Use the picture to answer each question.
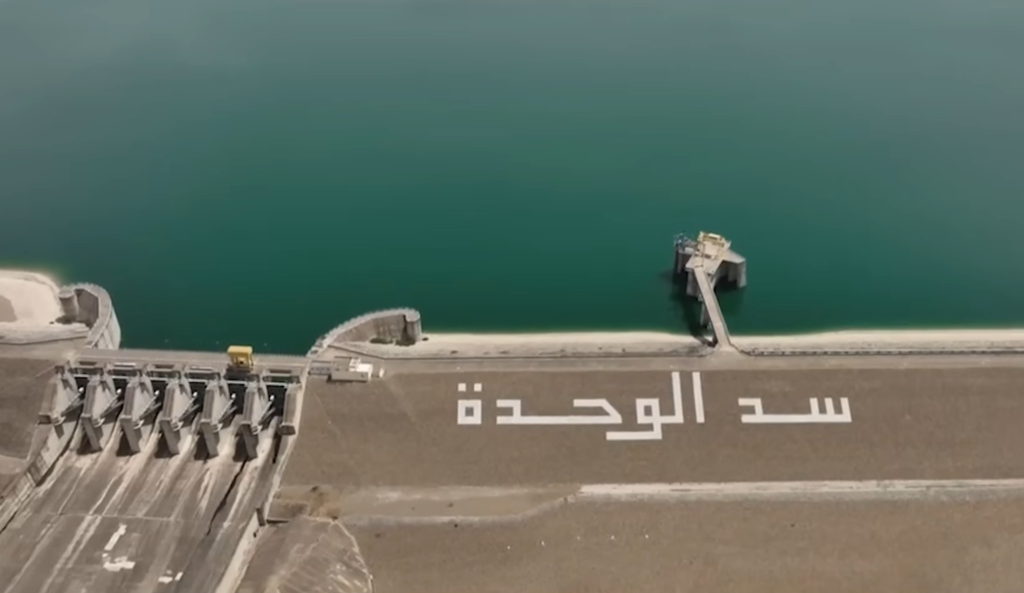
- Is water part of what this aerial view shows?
Yes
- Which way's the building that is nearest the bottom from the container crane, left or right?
on its right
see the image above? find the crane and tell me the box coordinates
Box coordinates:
[225,346,257,372]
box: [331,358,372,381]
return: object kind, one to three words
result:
building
